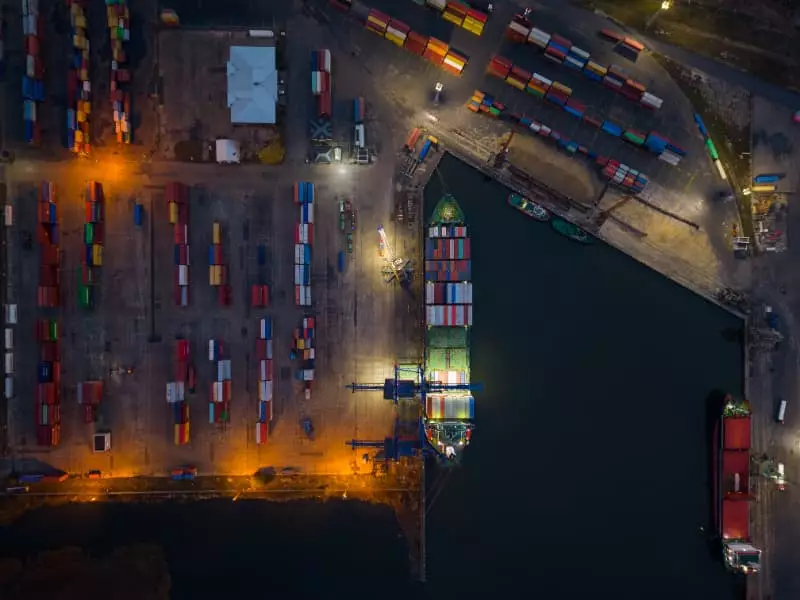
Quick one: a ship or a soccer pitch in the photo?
ship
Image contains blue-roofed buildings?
Yes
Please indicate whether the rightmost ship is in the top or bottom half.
bottom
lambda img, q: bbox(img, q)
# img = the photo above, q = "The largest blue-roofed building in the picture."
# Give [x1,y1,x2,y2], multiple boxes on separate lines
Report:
[226,46,280,126]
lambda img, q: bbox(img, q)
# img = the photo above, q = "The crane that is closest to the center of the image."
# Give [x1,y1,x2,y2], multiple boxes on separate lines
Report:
[377,226,413,284]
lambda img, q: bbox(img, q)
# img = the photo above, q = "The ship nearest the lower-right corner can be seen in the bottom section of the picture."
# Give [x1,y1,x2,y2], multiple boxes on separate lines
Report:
[712,391,762,576]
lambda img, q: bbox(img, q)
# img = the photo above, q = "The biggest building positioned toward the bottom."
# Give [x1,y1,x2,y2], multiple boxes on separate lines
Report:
[95,430,113,452]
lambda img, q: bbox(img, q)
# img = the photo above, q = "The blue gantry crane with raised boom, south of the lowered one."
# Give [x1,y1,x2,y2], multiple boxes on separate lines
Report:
[344,404,426,473]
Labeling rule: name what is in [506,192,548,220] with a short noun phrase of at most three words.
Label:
boat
